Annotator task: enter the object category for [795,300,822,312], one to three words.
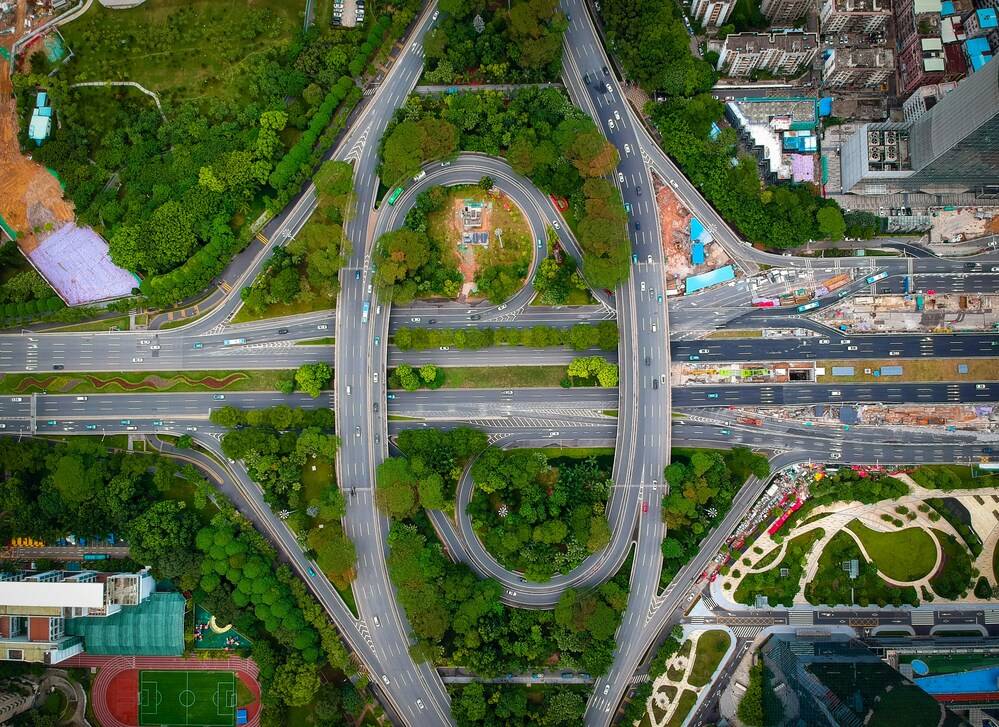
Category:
vehicle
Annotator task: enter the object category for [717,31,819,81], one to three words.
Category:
building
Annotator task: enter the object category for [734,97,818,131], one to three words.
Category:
building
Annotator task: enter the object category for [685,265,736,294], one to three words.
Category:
shed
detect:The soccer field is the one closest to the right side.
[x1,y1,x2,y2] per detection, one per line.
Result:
[139,669,237,727]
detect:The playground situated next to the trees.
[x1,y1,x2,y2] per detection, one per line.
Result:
[194,605,251,651]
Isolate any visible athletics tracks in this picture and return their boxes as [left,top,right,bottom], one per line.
[52,657,260,727]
